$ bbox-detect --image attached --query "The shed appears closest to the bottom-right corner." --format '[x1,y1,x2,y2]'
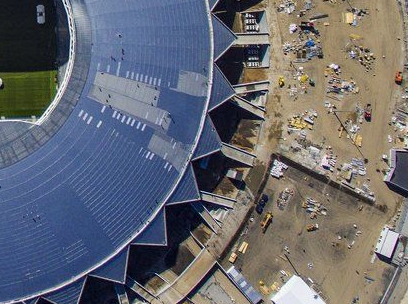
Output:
[371,229,398,258]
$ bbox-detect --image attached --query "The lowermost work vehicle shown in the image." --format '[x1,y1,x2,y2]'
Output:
[255,278,271,298]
